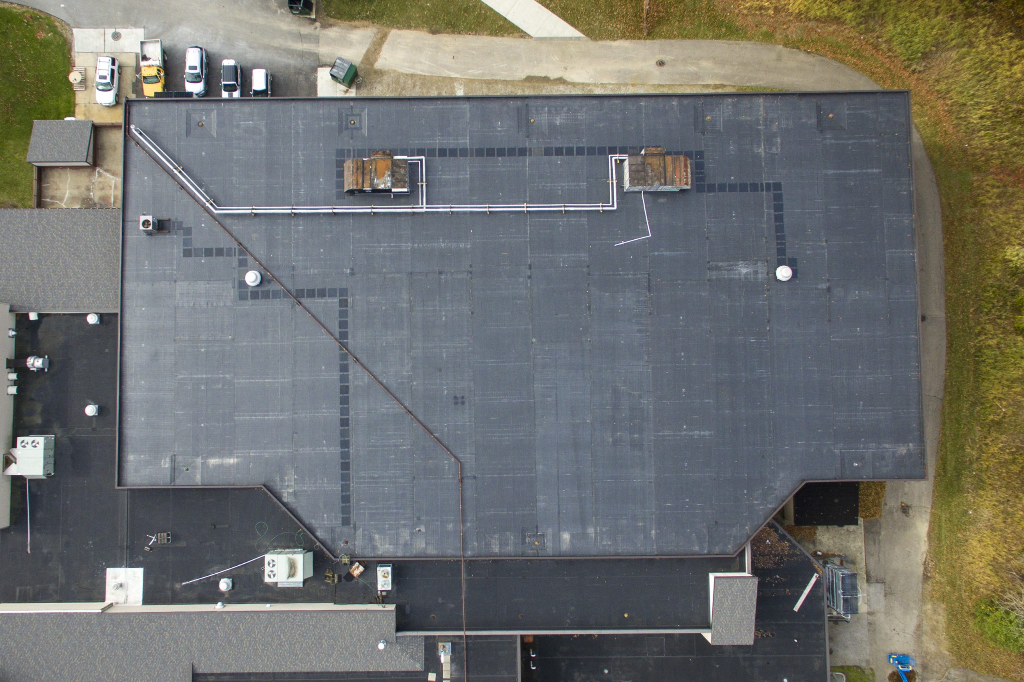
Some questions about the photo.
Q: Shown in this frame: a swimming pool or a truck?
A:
truck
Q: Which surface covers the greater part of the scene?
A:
buildings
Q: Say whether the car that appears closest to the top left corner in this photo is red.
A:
No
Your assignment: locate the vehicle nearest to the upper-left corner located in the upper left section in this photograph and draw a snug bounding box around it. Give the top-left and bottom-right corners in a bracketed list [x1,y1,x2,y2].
[90,53,122,107]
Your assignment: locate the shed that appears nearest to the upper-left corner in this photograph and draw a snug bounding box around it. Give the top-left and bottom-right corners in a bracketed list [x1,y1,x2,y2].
[27,119,94,165]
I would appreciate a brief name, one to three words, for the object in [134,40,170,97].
truck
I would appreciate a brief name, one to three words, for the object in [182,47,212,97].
car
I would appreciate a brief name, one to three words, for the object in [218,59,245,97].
car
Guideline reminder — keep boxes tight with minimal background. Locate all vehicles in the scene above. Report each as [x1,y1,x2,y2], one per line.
[90,53,122,107]
[251,68,275,97]
[182,47,212,97]
[134,40,170,97]
[218,59,245,97]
